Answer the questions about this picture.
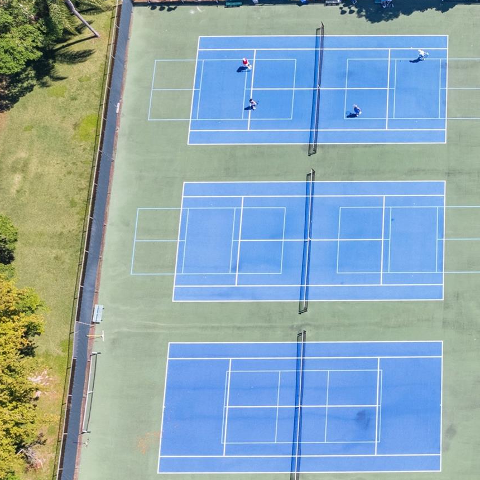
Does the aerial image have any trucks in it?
No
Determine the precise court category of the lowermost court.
tennis court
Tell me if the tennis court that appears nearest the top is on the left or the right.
right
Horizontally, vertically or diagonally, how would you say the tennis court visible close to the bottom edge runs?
horizontally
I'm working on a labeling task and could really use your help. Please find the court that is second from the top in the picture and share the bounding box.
[132,182,480,301]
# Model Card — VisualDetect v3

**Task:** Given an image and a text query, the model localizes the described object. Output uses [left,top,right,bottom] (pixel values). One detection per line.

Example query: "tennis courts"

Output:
[157,340,442,473]
[148,35,480,144]
[132,182,480,301]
